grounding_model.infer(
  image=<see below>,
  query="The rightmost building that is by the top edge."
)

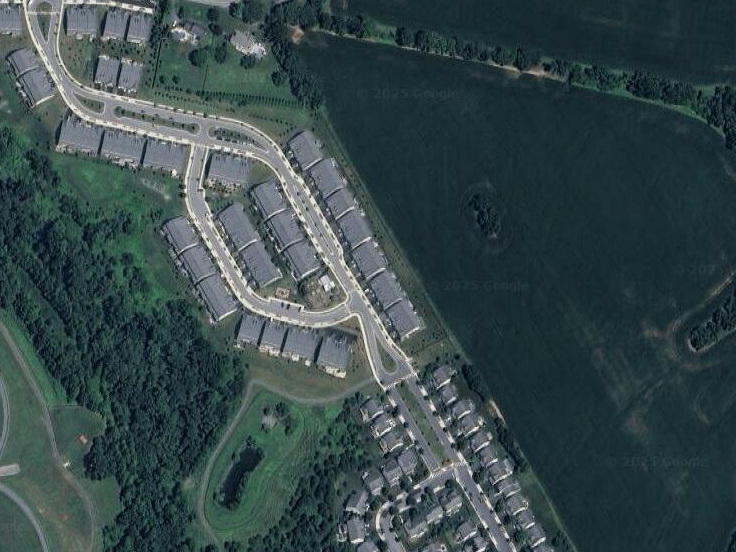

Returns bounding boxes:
[228,27,253,51]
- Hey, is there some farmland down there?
Yes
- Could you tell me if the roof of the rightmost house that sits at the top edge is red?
No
